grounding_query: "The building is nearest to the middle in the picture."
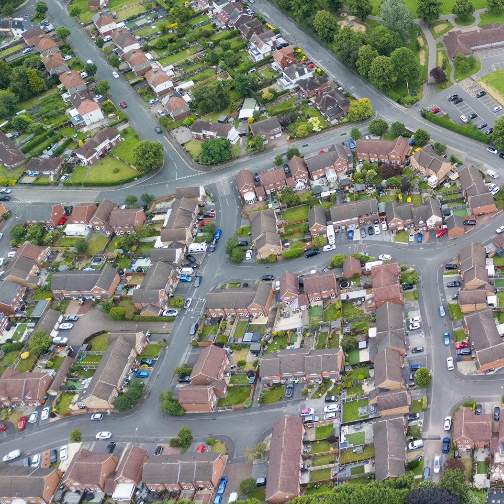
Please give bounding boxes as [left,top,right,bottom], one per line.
[247,211,286,260]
